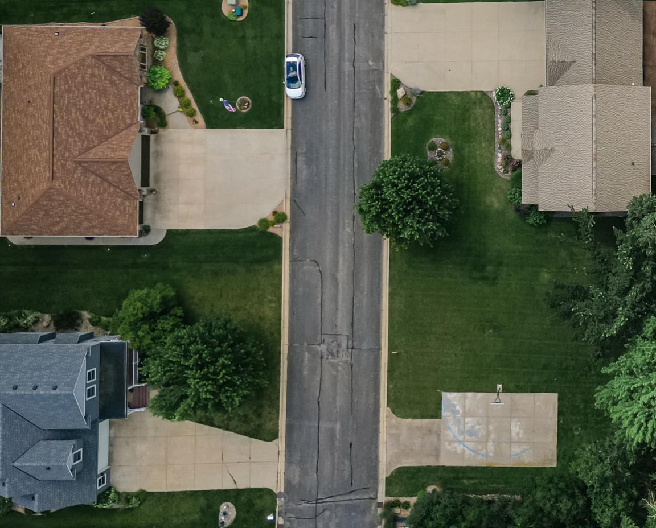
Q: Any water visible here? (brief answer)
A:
No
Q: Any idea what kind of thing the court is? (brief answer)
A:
basketball court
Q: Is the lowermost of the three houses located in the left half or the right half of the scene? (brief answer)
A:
left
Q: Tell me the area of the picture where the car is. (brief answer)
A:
top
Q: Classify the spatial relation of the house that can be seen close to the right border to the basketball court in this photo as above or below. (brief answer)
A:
above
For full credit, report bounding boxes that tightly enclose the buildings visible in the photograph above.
[522,0,656,213]
[0,24,159,237]
[0,330,153,512]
